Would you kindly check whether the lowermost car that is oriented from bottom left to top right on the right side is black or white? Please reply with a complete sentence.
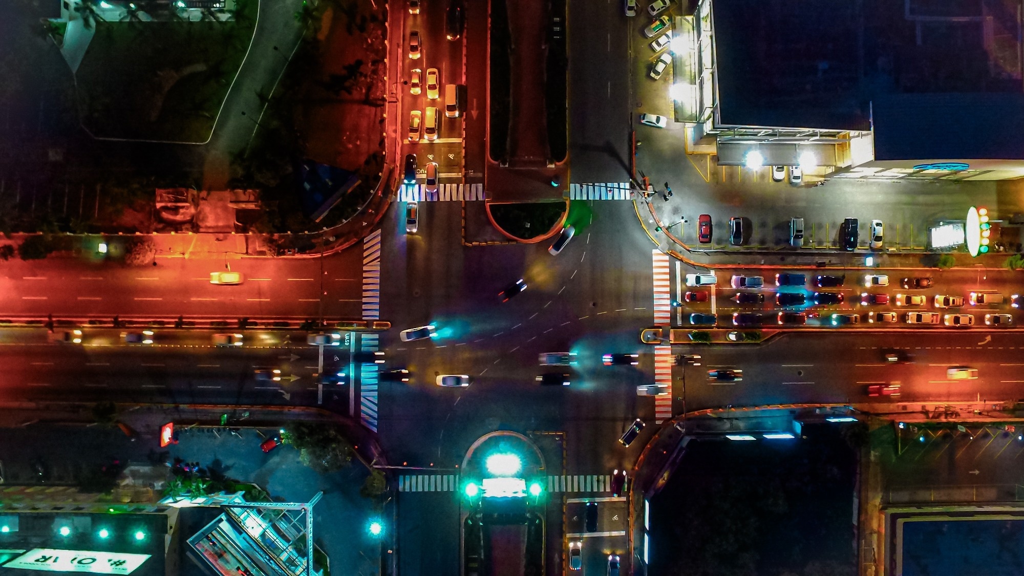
From above, the lowermost car that is oriented from bottom left to top right on the right side appears black.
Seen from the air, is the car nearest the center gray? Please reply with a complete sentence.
No, the color of the car nearest the center is black.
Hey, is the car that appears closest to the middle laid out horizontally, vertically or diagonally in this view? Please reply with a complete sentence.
The car that appears closest to the middle has been laid out diagonally relative to the frame.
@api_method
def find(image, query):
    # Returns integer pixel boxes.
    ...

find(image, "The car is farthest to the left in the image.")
[54,330,84,343]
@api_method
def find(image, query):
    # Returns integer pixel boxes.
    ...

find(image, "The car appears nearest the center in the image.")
[498,279,527,302]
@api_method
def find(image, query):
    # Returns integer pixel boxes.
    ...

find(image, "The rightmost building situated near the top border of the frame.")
[820,0,1024,185]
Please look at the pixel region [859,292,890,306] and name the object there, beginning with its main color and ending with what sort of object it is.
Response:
red vehicle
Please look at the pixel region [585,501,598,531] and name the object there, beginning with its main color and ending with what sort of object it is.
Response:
black vehicle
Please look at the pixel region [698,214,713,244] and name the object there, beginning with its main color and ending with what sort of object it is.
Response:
red car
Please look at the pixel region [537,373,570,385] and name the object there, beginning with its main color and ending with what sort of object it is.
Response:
black vehicle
